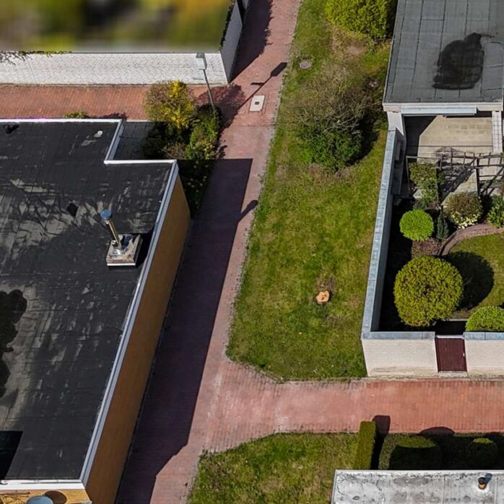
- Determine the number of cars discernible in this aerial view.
0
